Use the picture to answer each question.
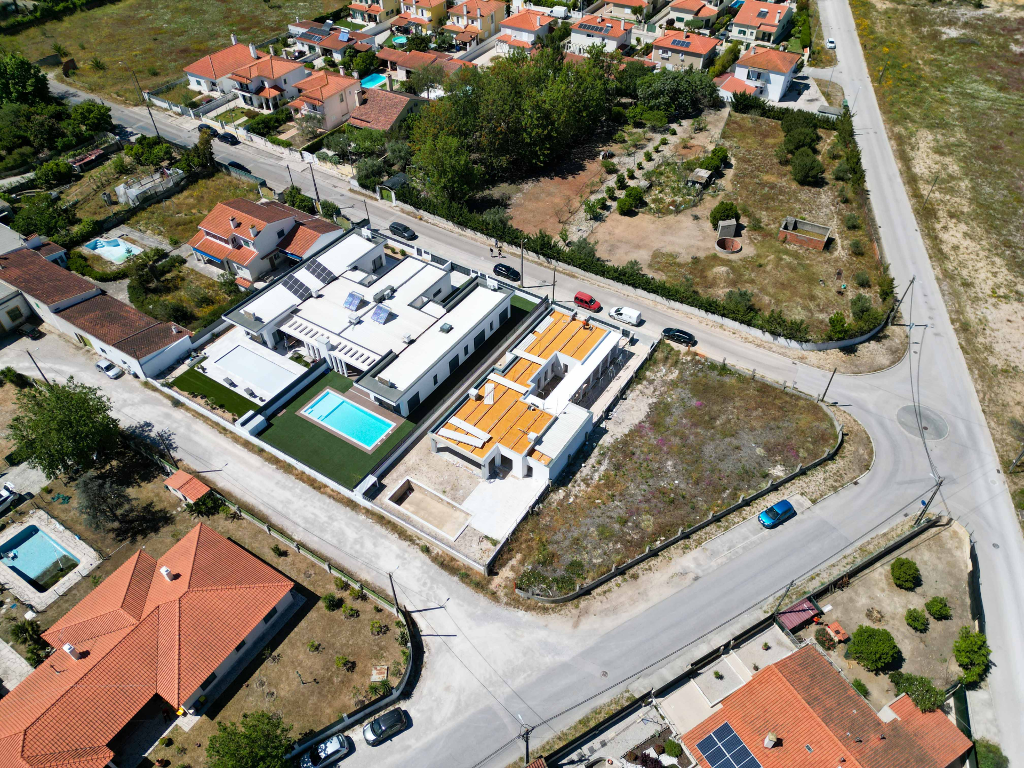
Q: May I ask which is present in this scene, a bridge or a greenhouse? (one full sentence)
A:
This aerial view contains a greenhouse.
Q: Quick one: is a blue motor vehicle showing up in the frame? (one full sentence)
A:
Yes, a blue motor vehicle appears in the view.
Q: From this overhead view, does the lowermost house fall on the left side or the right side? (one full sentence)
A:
You can find the lowermost house on the right side of the picture.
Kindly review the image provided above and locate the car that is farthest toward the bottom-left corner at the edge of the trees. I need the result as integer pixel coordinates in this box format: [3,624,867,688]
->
[0,478,21,509]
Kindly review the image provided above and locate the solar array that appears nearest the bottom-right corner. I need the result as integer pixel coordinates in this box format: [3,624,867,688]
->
[696,722,763,768]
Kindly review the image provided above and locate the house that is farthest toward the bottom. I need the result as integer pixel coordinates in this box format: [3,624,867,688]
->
[682,645,973,768]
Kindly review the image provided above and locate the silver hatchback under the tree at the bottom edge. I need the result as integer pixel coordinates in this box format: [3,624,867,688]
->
[298,728,349,768]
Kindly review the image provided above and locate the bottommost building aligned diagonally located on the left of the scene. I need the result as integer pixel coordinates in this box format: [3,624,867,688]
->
[0,521,294,768]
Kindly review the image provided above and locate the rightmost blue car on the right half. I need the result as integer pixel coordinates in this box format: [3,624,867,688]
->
[757,494,802,528]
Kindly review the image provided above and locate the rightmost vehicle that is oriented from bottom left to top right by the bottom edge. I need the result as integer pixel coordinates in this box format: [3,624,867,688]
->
[360,703,410,747]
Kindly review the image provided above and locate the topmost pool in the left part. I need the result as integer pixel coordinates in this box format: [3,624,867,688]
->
[389,35,409,47]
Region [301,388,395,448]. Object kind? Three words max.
swimming pool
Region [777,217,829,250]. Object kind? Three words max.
storage tank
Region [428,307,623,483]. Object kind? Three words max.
house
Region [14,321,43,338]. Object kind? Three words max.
car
